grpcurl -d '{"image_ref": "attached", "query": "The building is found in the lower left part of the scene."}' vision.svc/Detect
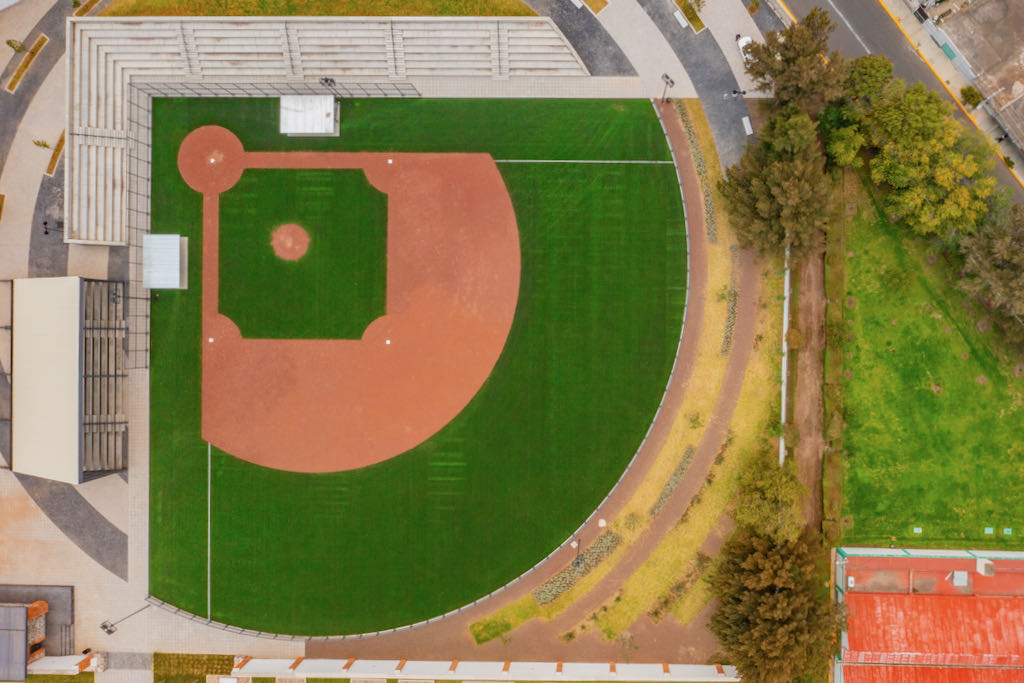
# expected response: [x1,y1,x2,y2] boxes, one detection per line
[0,603,45,681]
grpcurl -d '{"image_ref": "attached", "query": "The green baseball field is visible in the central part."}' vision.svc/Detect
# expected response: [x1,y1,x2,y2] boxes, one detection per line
[150,97,688,638]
